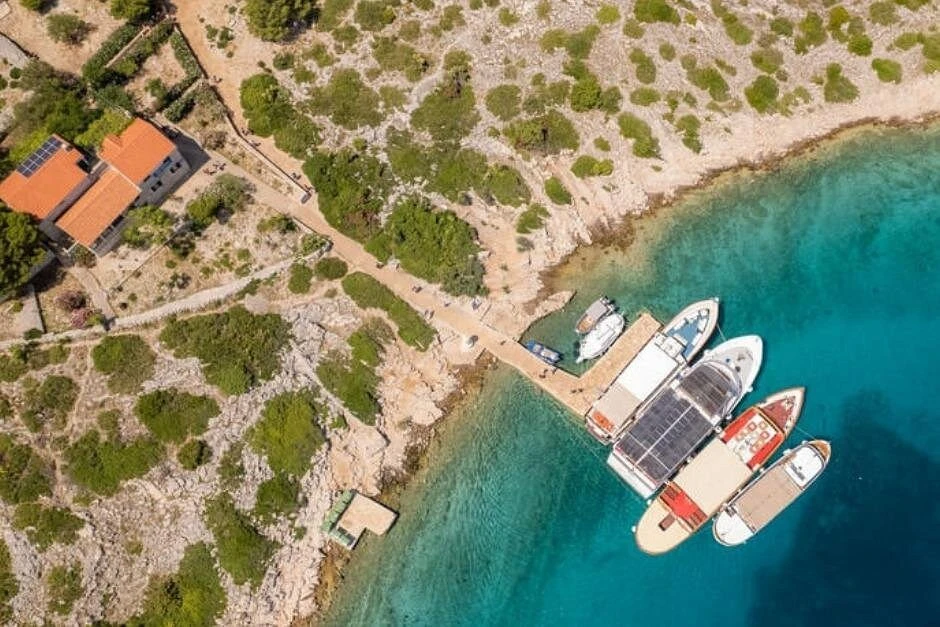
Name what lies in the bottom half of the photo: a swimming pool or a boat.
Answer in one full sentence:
It is a boat that can be seen in the bottom half of the photo.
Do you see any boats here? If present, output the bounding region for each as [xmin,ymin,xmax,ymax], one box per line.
[707,440,834,547]
[574,294,616,331]
[607,336,765,499]
[628,386,805,547]
[525,341,561,364]
[584,295,722,447]
[576,309,627,362]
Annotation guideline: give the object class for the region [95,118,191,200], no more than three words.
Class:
house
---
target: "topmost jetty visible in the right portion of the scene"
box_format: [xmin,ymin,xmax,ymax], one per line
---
[476,313,661,416]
